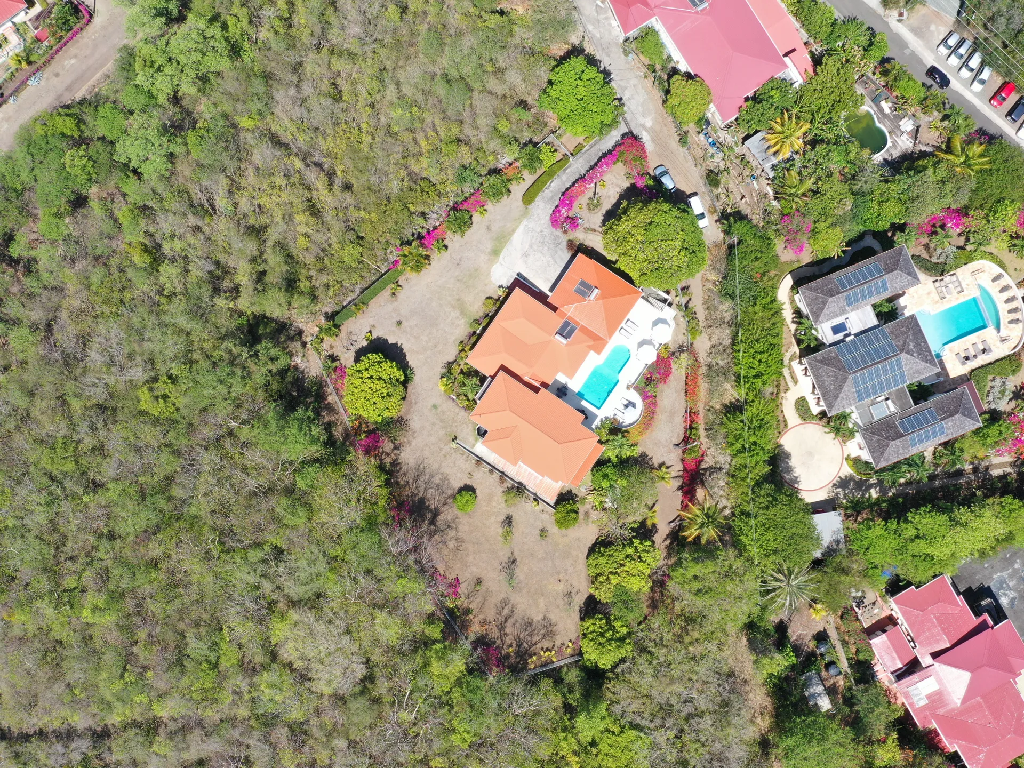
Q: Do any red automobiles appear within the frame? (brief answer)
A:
Yes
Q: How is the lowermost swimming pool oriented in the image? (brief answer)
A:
on a diagonal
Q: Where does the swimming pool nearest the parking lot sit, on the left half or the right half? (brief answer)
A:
right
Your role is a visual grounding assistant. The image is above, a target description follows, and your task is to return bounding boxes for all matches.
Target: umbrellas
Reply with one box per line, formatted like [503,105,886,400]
[635,342,658,365]
[649,321,673,345]
[624,405,637,417]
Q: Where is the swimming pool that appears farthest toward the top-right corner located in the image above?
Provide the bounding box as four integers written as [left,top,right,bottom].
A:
[837,104,889,157]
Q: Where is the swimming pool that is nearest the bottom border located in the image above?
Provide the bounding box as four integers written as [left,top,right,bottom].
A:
[576,345,631,409]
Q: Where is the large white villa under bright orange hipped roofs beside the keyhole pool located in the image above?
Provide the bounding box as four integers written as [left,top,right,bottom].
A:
[466,253,643,502]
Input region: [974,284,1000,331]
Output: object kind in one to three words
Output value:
swimming pool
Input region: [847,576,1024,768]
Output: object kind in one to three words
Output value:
house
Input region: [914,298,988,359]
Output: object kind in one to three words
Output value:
swimming pool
